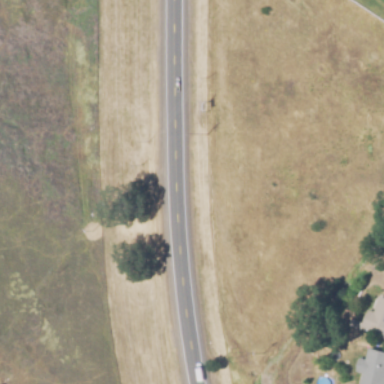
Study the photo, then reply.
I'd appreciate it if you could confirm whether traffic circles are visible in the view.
No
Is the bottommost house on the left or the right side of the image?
right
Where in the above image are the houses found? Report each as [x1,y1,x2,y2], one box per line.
[360,292,384,346]
[352,350,384,384]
